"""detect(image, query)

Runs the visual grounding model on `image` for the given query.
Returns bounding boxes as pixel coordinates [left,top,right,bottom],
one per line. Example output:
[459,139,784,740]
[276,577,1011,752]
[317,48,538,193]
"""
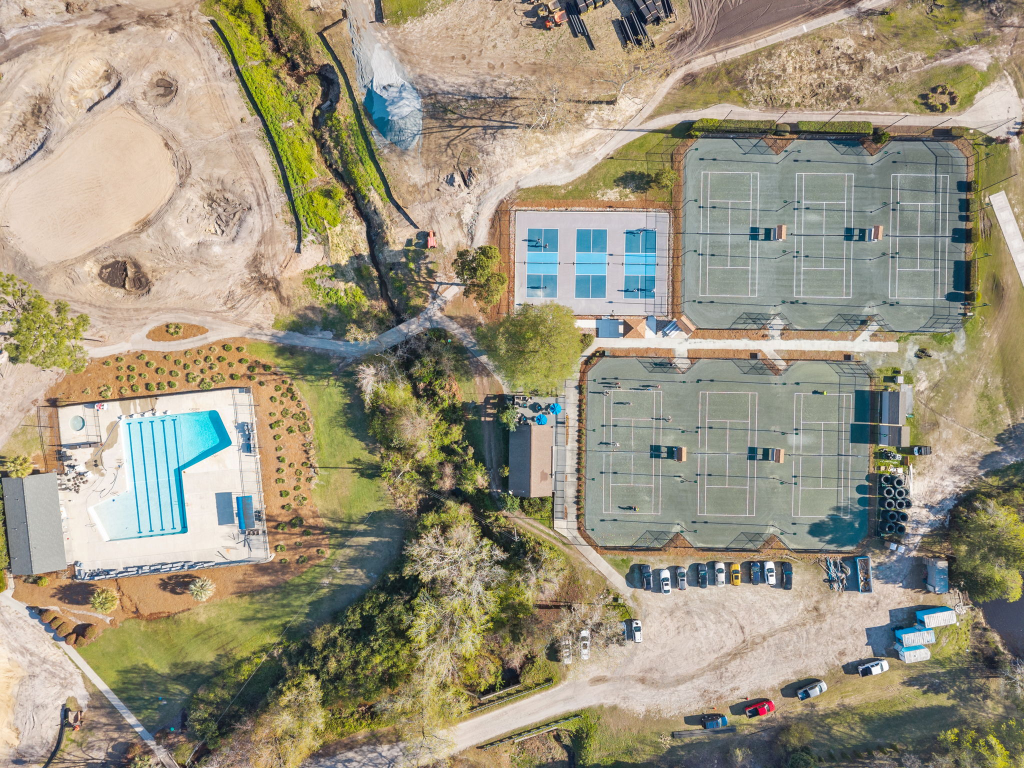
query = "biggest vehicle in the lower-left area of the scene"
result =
[65,711,82,732]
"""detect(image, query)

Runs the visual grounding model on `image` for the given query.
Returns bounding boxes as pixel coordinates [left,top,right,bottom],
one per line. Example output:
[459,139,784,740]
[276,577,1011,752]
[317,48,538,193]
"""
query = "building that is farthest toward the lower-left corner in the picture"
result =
[1,472,72,575]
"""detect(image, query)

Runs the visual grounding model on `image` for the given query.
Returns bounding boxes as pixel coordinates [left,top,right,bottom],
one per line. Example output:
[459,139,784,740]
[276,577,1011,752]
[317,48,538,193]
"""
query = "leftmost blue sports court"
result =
[526,228,559,298]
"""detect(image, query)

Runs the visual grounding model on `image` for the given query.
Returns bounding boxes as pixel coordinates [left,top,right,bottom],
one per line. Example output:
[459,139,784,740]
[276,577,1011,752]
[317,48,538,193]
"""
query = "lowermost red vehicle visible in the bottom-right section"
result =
[743,698,775,717]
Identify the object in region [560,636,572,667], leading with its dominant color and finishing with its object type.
white vehicle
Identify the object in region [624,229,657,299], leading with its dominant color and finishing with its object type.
blue sports court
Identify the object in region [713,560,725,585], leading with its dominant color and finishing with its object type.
white vehicle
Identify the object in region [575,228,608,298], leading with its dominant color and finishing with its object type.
blue sports court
